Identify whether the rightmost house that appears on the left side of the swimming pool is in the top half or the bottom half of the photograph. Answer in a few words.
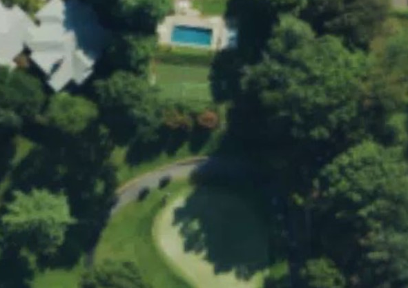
top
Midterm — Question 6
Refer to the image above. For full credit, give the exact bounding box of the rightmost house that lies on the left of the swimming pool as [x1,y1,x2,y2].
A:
[30,0,106,92]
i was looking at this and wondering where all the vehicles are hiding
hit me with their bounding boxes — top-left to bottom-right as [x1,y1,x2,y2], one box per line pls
[139,186,150,196]
[160,177,172,186]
